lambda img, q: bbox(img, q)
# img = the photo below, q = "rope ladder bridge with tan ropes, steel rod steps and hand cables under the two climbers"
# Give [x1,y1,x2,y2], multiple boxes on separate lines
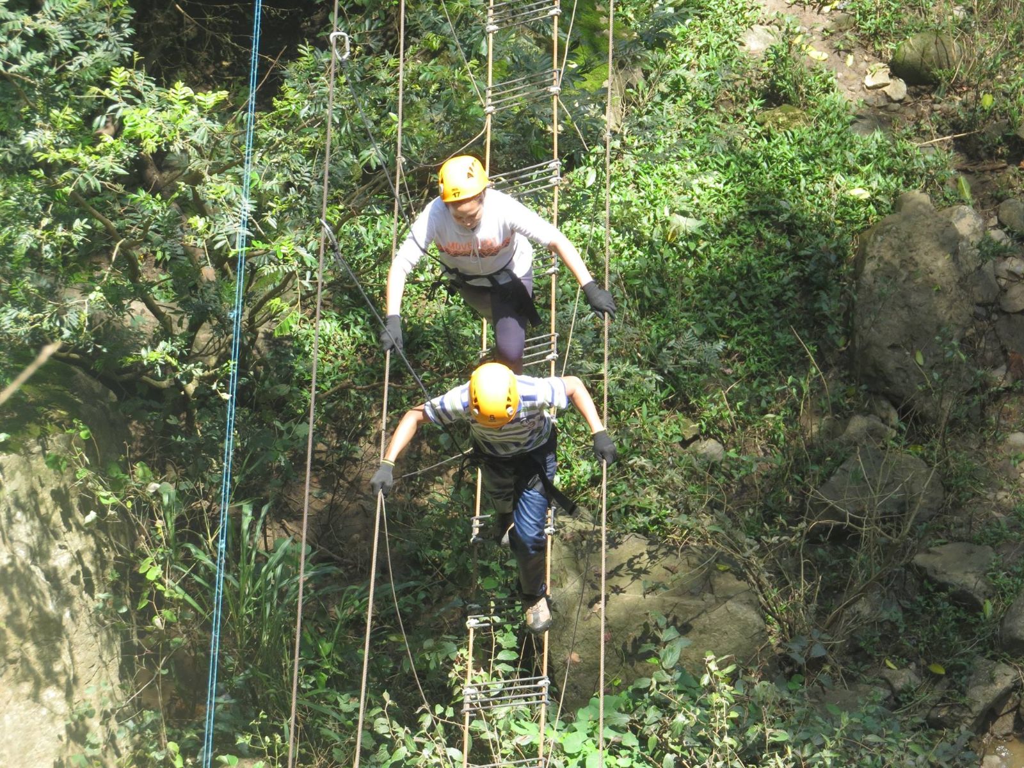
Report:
[353,0,614,768]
